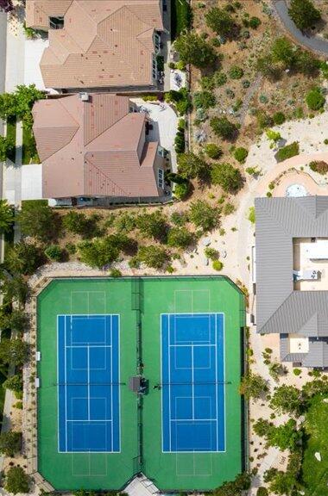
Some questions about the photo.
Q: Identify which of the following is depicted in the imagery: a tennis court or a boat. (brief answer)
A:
tennis court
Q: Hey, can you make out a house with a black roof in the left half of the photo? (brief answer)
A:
No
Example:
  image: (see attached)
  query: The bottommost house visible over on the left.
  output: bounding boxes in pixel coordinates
[32,91,163,198]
